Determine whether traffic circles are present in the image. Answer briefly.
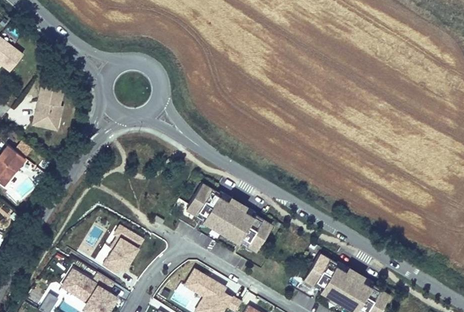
Yes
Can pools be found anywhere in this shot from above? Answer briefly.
Yes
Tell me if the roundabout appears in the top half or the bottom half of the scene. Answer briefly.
top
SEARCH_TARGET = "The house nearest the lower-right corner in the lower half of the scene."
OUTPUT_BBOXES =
[304,254,392,312]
